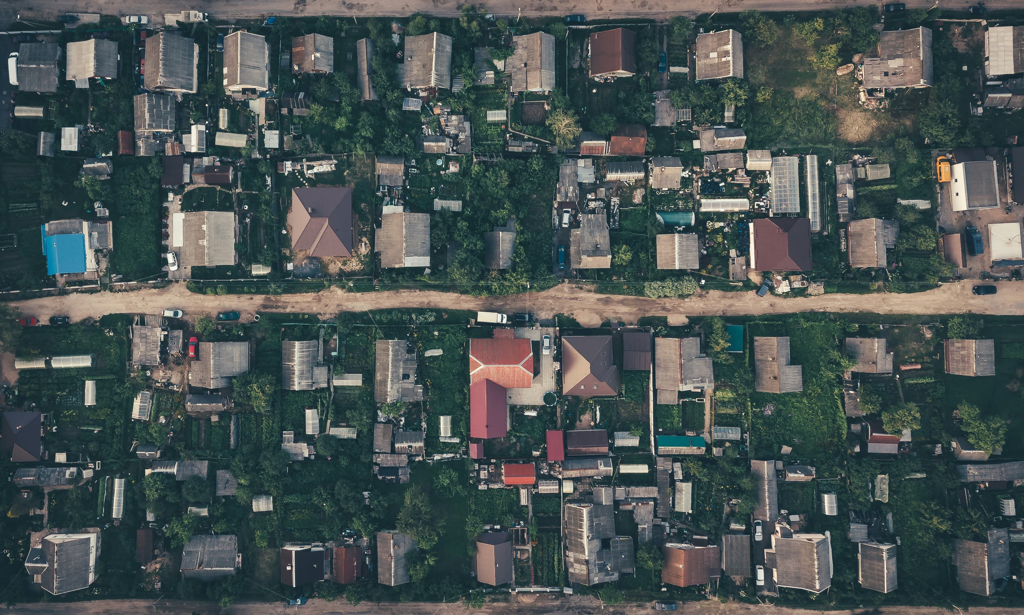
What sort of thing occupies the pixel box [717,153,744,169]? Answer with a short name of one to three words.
shed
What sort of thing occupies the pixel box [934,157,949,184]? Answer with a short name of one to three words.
vehicle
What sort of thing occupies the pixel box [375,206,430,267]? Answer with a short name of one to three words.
house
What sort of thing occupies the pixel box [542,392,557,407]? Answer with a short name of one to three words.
swimming pool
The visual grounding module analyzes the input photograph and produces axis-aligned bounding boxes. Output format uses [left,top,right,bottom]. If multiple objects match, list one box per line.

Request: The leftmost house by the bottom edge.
[23,532,102,592]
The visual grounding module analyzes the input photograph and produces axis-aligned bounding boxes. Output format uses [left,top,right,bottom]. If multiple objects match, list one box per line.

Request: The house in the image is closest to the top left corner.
[17,43,64,93]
